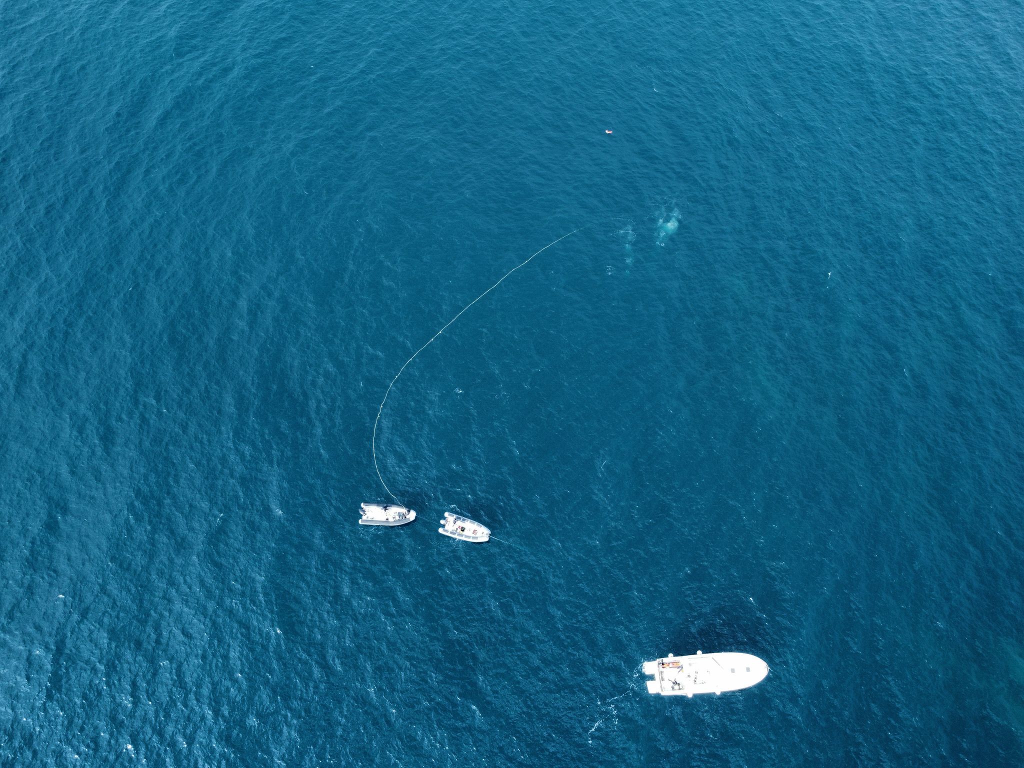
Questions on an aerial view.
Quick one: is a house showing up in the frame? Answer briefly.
No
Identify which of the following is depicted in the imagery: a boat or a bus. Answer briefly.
boat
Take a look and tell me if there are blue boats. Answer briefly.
No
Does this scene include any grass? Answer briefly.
No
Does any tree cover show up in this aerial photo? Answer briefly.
No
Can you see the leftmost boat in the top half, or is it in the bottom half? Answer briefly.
bottom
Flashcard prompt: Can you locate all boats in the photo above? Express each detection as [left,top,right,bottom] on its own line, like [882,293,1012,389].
[441,513,491,542]
[642,651,772,697]
[360,503,417,526]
